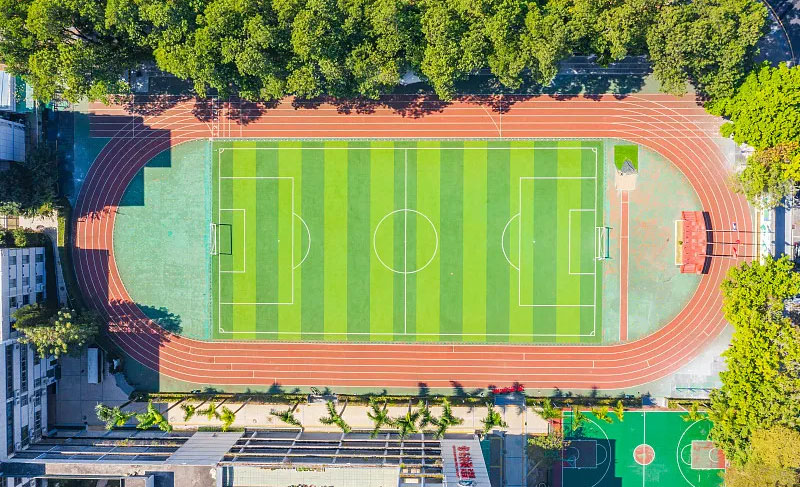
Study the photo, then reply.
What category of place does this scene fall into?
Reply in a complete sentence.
What you see here is a sports ground.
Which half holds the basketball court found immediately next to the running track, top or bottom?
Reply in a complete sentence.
You can find the basketball court found immediately next to the running track in the bottom half.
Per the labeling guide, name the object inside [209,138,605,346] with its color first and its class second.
green soccer field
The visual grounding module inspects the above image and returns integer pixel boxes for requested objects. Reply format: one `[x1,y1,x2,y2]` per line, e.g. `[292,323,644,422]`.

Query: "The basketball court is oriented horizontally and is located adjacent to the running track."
[550,406,733,487]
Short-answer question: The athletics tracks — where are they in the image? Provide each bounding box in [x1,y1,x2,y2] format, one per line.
[73,93,750,389]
